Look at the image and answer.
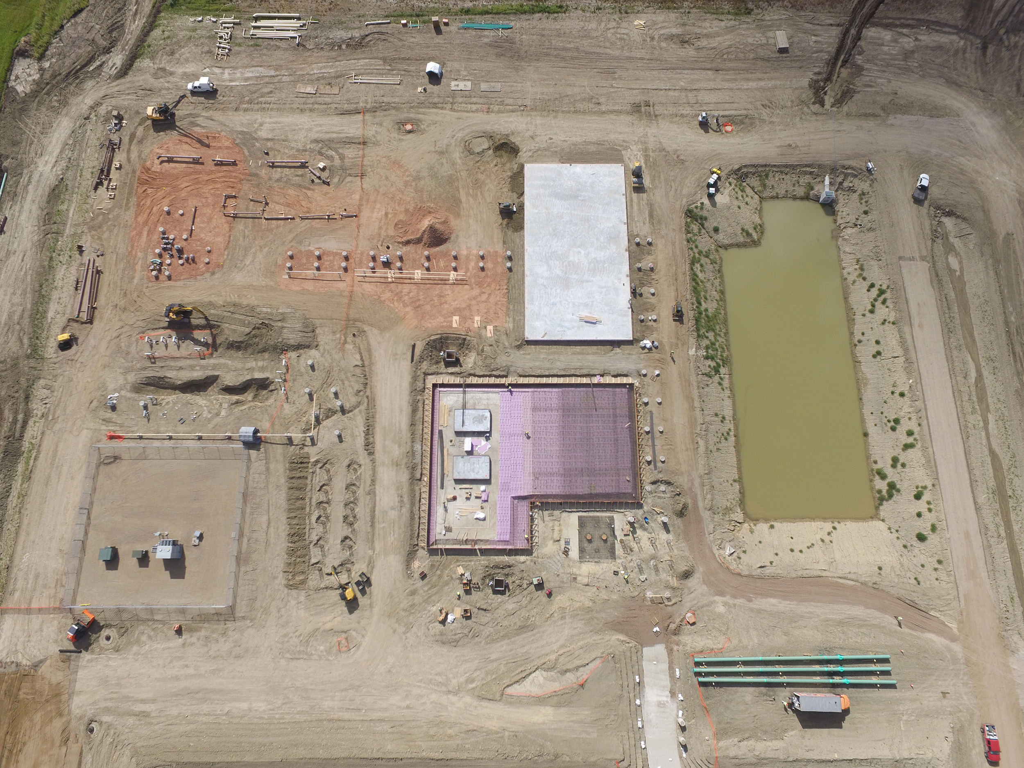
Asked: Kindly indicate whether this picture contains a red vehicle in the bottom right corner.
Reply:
Yes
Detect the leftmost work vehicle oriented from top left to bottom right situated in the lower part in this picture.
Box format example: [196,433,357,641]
[327,565,358,606]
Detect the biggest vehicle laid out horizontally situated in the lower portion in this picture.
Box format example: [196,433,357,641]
[784,690,849,713]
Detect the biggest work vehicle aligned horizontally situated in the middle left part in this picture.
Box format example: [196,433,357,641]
[160,301,219,323]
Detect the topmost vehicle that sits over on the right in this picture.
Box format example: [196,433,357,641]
[695,111,721,126]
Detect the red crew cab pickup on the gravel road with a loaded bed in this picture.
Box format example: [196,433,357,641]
[978,719,1002,763]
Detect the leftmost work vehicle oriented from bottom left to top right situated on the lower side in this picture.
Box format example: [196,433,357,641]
[64,605,99,645]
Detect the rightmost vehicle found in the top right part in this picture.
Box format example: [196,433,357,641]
[911,173,930,201]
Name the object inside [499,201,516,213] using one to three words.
vehicle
